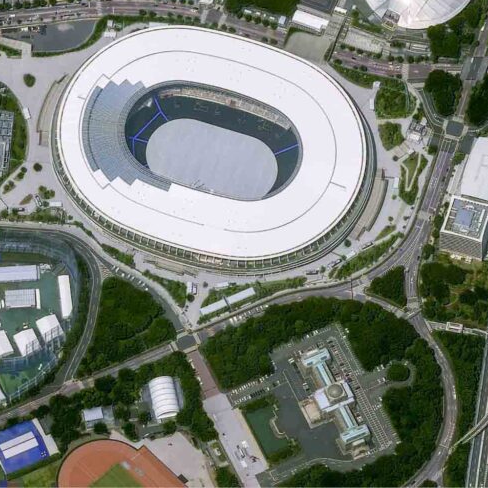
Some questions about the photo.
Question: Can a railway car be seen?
No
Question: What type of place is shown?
sports ground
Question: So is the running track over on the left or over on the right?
left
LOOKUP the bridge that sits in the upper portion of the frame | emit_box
[459,45,488,90]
